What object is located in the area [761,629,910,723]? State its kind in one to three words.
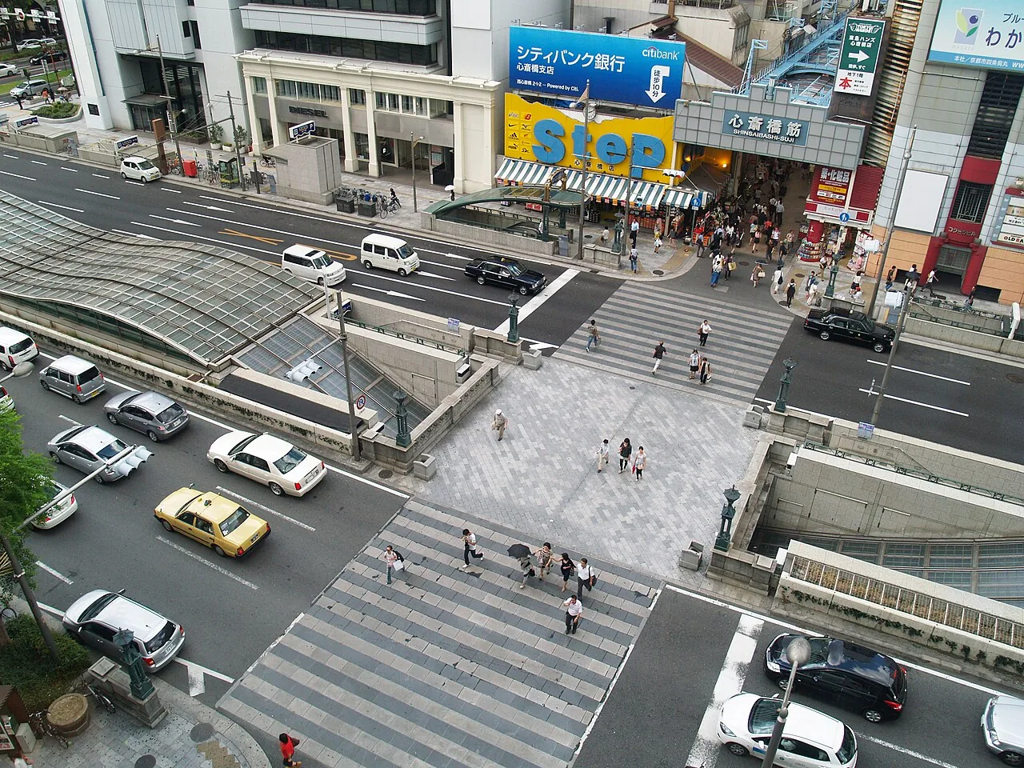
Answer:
car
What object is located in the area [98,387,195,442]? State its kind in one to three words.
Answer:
car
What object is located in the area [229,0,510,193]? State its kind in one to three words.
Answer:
building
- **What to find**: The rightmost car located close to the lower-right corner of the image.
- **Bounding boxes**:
[976,695,1024,765]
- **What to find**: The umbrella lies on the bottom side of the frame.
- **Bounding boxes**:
[494,544,528,568]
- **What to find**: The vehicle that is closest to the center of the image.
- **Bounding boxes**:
[469,254,552,295]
